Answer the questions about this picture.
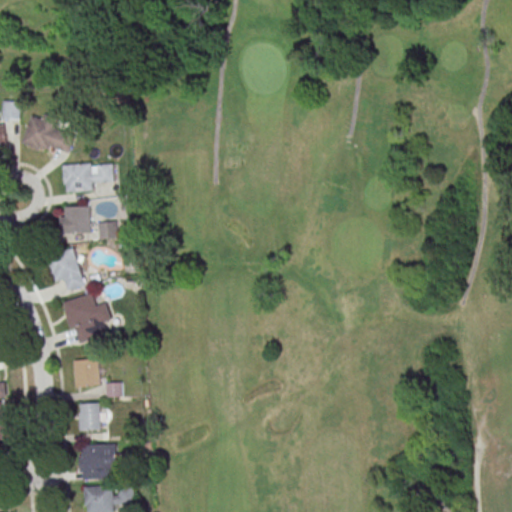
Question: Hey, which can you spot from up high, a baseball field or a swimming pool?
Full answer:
I can see a swimming pool in this picture.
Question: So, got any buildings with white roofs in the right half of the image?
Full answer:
No, the scene shows no building with a white roof in the right half of the image.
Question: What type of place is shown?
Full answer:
It's a golf course.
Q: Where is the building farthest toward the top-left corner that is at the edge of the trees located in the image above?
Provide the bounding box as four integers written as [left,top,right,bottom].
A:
[2,101,20,120]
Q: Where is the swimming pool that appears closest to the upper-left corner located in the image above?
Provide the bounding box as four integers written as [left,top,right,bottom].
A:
[92,197,124,222]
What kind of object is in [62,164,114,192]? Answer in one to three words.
house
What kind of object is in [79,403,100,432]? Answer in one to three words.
house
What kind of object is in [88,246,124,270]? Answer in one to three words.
swimming pool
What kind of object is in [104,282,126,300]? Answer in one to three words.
swimming pool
